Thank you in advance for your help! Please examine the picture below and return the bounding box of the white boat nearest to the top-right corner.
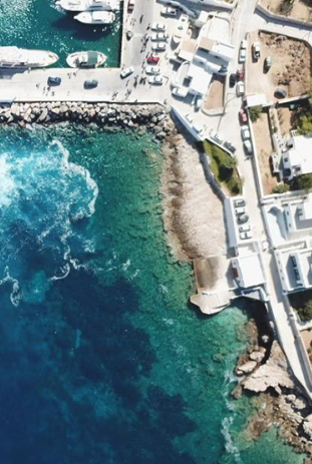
[174,14,189,42]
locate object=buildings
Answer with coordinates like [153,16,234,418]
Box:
[280,131,312,177]
[194,18,235,65]
[271,240,312,292]
[227,244,269,301]
[184,58,222,98]
[203,0,237,9]
[265,195,312,241]
[243,93,270,108]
